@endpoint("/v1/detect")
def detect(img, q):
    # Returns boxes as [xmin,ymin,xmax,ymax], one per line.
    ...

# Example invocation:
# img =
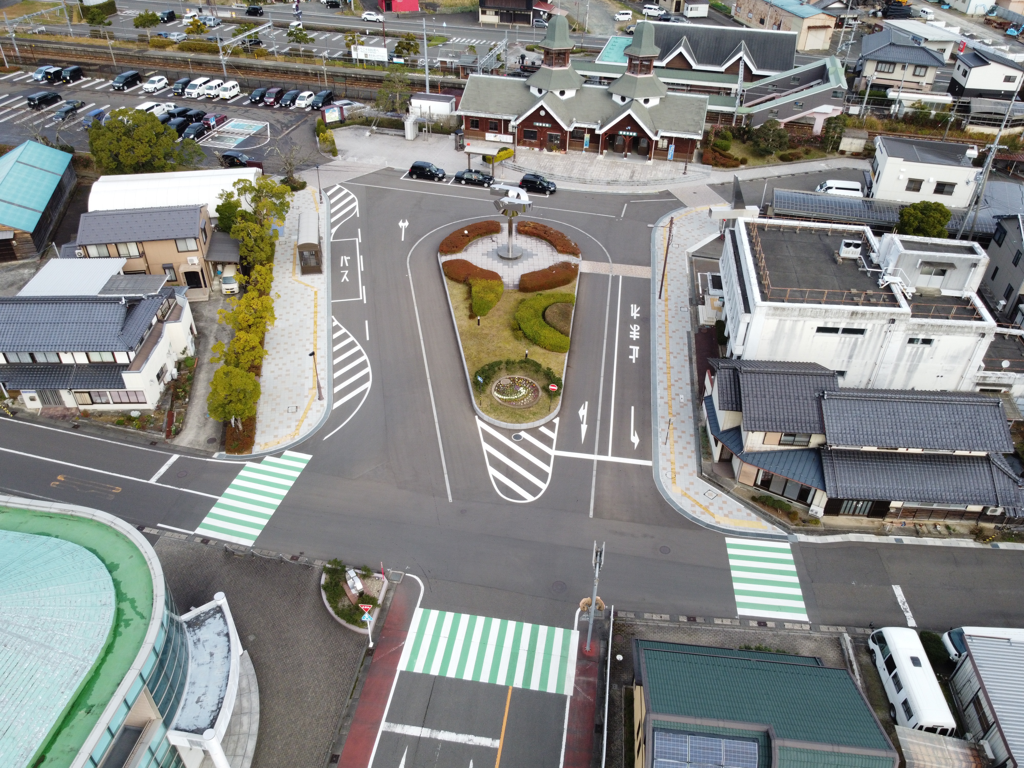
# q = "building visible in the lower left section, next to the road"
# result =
[0,496,193,768]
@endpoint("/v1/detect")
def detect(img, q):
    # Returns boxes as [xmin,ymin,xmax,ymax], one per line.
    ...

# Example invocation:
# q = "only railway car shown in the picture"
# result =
[515,49,543,78]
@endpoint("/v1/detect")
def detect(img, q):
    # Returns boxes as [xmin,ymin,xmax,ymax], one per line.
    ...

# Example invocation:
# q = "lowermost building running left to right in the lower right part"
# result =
[627,631,907,768]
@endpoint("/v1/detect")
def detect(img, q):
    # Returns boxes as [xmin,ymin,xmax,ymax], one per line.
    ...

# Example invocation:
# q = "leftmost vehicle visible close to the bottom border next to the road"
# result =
[870,631,959,738]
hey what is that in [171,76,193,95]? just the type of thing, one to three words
car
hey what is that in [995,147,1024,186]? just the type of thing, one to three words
building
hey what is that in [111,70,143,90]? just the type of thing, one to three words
car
